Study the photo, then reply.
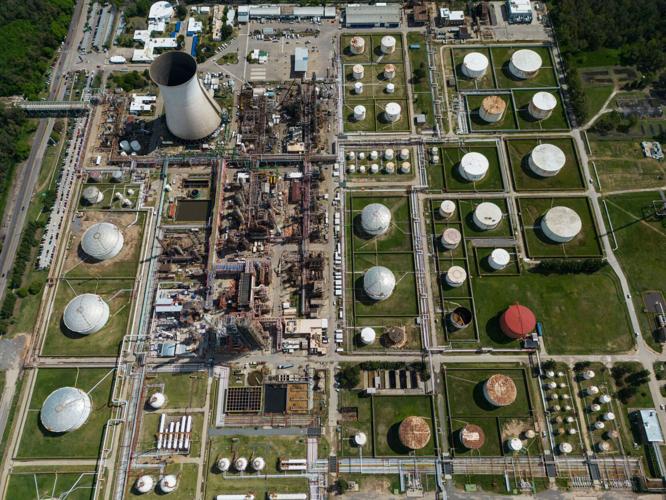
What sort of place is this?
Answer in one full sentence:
This looks like an industrial area.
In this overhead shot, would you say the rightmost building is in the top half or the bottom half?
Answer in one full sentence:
Seen from above, the rightmost building lies in the bottom half of the view.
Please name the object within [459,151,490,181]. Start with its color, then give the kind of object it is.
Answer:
white storage tank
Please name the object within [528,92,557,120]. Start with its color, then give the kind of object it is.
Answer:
white storage tank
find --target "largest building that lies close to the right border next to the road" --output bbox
[637,409,665,442]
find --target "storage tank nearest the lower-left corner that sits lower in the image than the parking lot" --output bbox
[43,388,92,436]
